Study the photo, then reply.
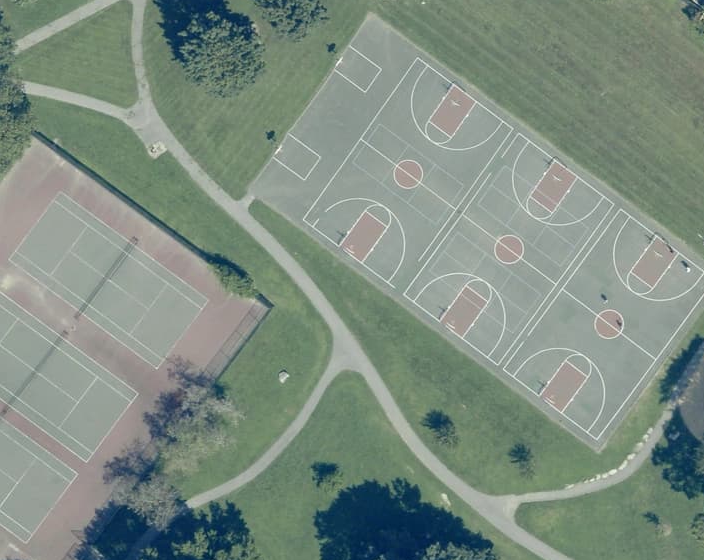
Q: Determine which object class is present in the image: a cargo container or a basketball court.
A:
basketball court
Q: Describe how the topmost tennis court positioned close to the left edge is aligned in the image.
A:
at an angle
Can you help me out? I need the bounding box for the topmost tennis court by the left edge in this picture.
[9,192,208,368]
